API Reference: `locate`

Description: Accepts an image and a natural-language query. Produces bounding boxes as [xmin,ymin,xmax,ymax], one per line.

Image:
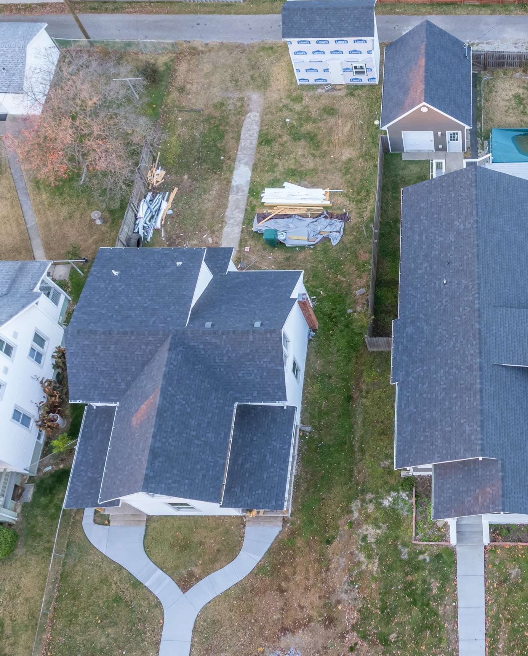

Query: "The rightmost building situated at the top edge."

[379,19,473,153]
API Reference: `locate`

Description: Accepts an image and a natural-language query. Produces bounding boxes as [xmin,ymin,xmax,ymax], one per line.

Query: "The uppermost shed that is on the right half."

[281,0,381,85]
